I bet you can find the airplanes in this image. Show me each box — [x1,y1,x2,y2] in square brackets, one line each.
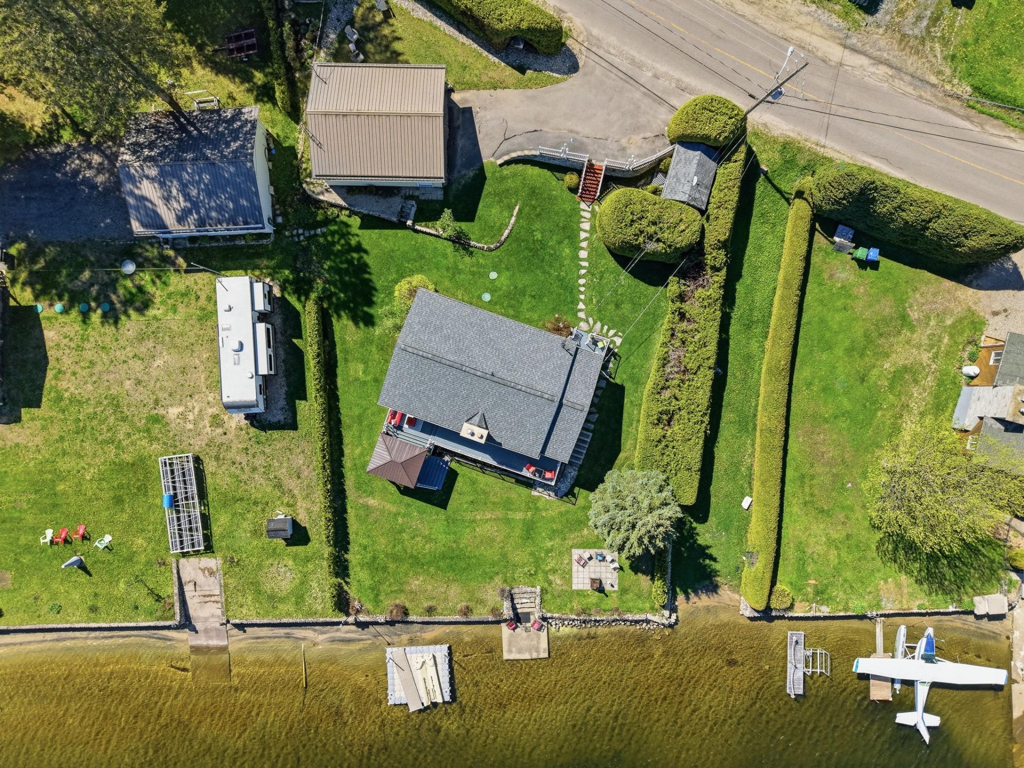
[853,614,1007,746]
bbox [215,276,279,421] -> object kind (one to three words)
camper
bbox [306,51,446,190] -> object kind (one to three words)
building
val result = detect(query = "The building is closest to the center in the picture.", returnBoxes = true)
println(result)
[377,287,612,486]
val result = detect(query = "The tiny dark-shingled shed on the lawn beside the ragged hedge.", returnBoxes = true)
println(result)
[261,519,290,542]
